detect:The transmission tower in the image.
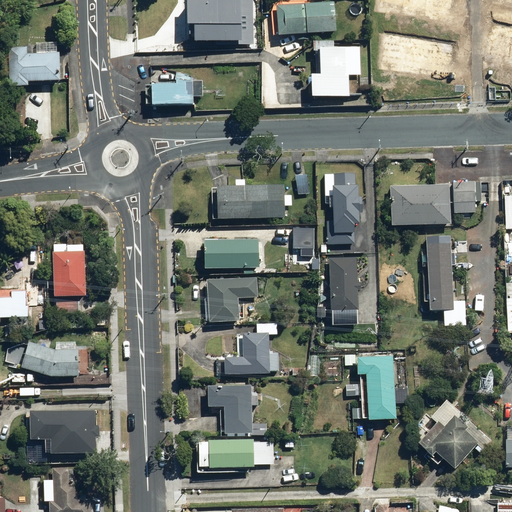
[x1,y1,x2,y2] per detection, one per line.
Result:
[478,370,494,402]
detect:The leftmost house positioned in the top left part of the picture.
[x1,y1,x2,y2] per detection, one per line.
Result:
[9,42,60,86]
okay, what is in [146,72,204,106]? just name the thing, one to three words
building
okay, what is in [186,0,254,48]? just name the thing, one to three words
building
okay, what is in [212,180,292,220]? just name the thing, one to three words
house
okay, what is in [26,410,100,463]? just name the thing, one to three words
house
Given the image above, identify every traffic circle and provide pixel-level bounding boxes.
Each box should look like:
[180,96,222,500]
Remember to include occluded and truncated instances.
[103,140,138,176]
